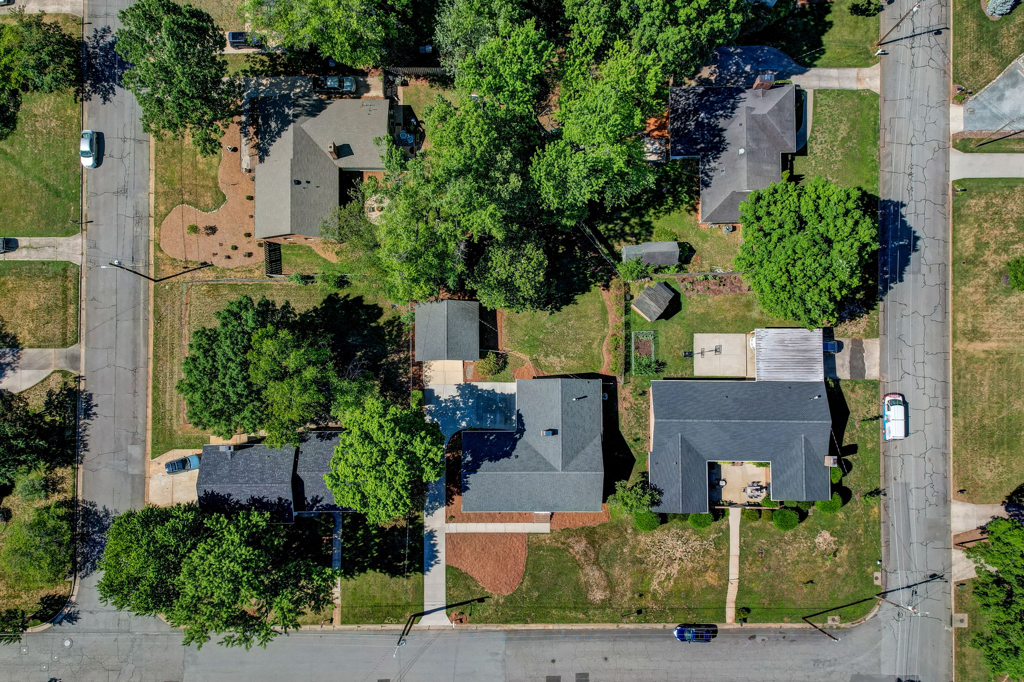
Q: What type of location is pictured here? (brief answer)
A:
residential area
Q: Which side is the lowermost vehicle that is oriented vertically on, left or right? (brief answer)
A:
right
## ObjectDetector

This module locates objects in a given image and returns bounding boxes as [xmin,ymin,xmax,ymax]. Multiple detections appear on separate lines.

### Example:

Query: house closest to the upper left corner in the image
[254,90,390,239]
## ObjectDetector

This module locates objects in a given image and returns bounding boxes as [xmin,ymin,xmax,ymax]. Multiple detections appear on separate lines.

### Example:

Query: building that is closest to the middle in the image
[415,299,479,361]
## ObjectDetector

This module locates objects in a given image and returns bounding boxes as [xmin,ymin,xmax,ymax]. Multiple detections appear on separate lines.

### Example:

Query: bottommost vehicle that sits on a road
[674,628,713,647]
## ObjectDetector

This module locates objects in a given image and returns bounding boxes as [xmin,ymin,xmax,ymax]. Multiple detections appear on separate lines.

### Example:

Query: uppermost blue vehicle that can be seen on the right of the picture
[824,341,837,356]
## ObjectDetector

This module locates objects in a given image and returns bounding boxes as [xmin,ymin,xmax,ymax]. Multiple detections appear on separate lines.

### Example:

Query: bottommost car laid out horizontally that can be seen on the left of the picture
[162,454,199,475]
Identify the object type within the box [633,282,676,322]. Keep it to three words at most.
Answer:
shed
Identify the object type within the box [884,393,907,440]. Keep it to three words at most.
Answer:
vehicle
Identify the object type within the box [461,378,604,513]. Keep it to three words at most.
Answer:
house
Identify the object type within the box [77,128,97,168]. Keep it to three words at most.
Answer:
car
